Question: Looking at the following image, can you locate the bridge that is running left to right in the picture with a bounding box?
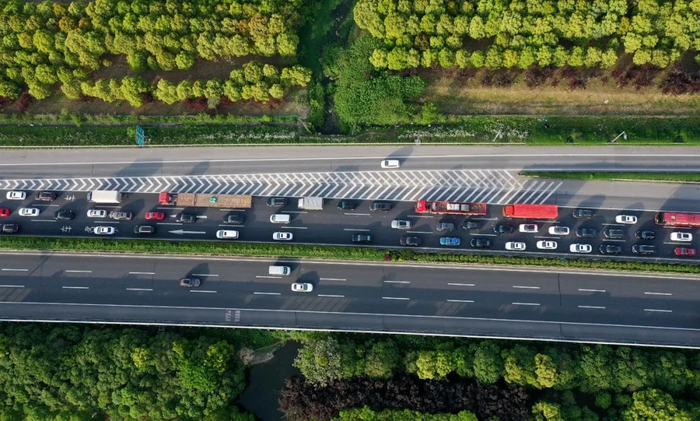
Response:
[0,251,700,350]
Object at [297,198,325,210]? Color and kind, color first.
white vehicle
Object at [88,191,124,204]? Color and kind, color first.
white vehicle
